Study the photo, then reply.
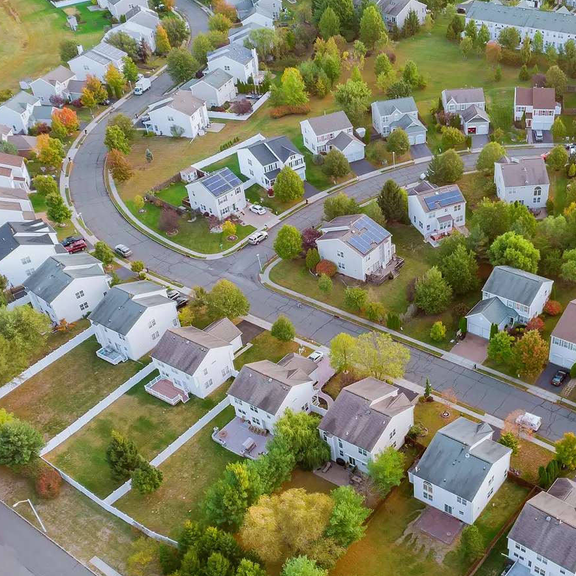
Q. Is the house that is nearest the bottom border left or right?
right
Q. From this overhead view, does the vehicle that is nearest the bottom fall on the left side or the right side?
right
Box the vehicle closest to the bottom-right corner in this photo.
[512,407,543,429]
